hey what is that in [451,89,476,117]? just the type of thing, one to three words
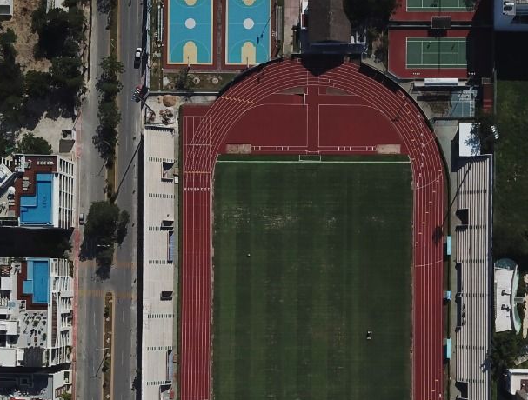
sports court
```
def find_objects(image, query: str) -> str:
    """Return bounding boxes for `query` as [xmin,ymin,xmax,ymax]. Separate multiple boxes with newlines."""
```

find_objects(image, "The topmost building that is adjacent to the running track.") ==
[302,0,366,52]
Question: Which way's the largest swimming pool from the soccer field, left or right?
on its left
